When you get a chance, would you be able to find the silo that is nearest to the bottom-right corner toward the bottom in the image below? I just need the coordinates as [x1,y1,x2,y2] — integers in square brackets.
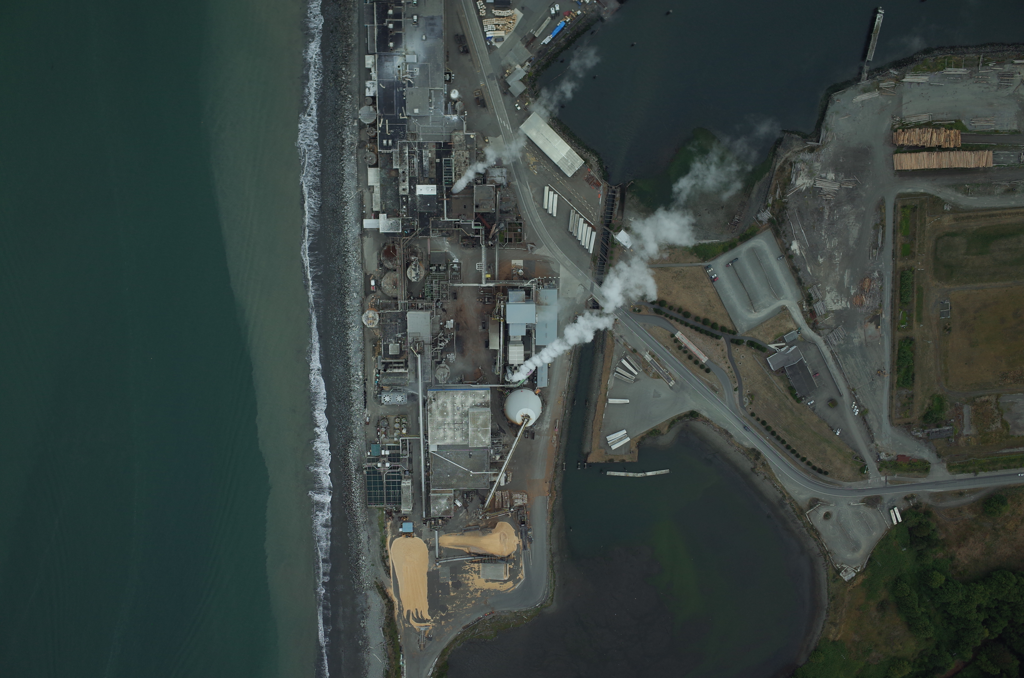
[501,387,544,429]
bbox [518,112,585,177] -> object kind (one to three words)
building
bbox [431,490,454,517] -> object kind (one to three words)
building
